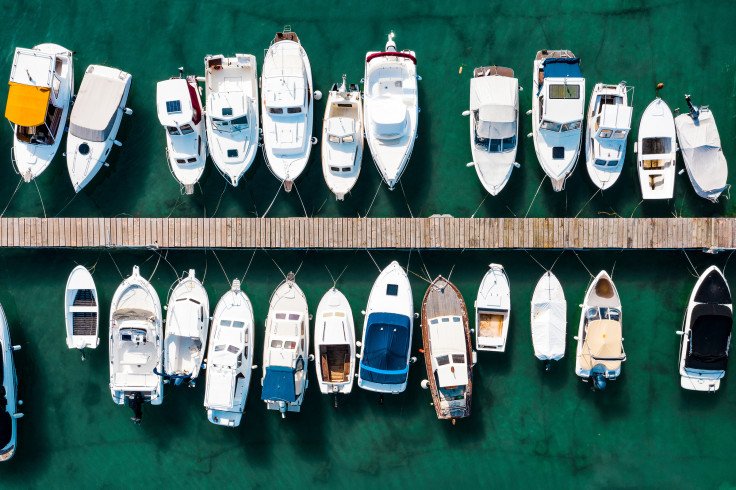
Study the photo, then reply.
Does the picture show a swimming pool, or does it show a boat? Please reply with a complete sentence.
Of the two, only a boat appears.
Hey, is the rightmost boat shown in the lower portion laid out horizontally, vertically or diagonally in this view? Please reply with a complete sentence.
The rightmost boat shown in the lower portion has been laid out vertically relative to the frame.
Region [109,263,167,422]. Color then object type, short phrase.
white boat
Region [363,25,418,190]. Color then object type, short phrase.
white boat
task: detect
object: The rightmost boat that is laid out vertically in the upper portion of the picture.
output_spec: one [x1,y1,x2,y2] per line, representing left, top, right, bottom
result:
[673,91,729,203]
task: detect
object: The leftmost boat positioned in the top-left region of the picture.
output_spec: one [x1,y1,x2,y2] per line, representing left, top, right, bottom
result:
[6,41,76,185]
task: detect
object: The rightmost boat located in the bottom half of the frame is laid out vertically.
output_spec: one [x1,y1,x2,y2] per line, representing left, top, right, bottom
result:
[678,266,734,393]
